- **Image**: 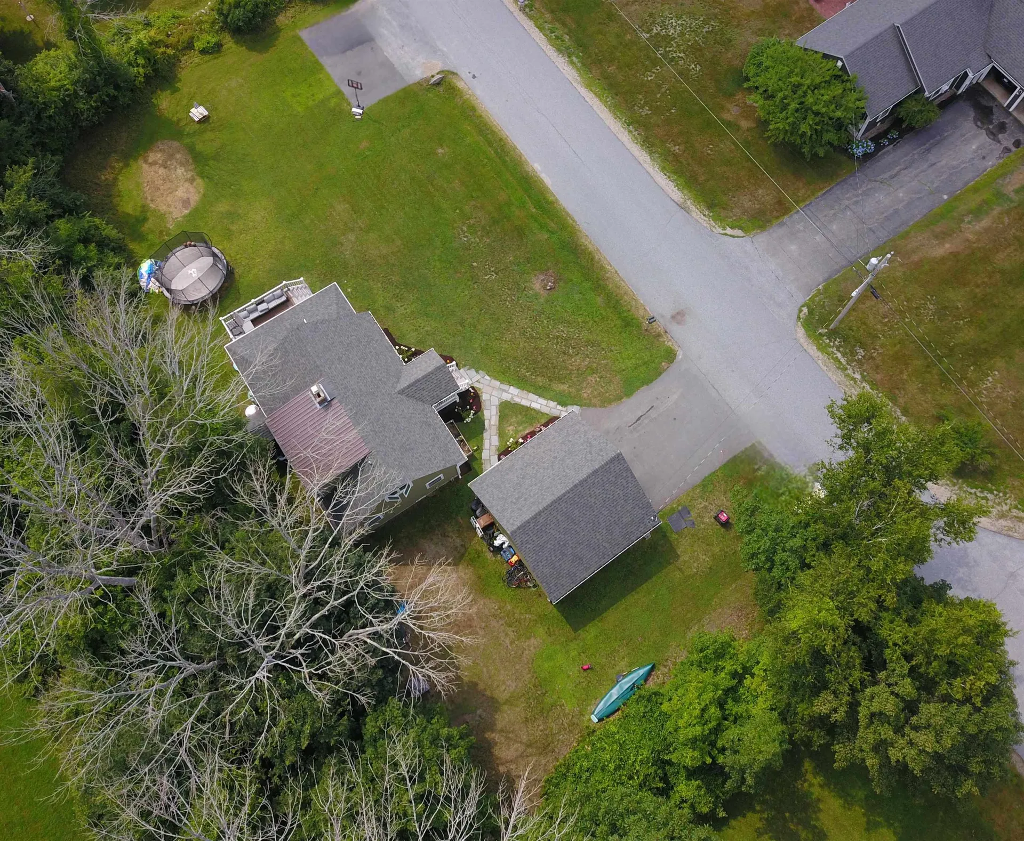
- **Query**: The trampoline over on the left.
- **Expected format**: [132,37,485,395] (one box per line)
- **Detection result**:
[142,229,231,313]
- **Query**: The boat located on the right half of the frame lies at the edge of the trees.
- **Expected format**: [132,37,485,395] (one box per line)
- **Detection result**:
[590,663,655,723]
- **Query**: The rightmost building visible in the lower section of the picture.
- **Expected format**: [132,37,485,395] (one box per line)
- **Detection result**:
[467,408,665,605]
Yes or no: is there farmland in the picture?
No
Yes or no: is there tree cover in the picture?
Yes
